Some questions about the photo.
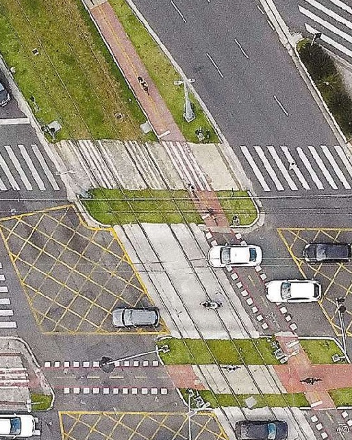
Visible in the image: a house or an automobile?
automobile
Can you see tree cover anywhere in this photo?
No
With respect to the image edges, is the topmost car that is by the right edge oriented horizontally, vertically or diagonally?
horizontally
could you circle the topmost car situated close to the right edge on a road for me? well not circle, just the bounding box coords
[303,239,351,264]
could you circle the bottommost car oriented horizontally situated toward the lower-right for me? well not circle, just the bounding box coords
[235,419,287,440]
